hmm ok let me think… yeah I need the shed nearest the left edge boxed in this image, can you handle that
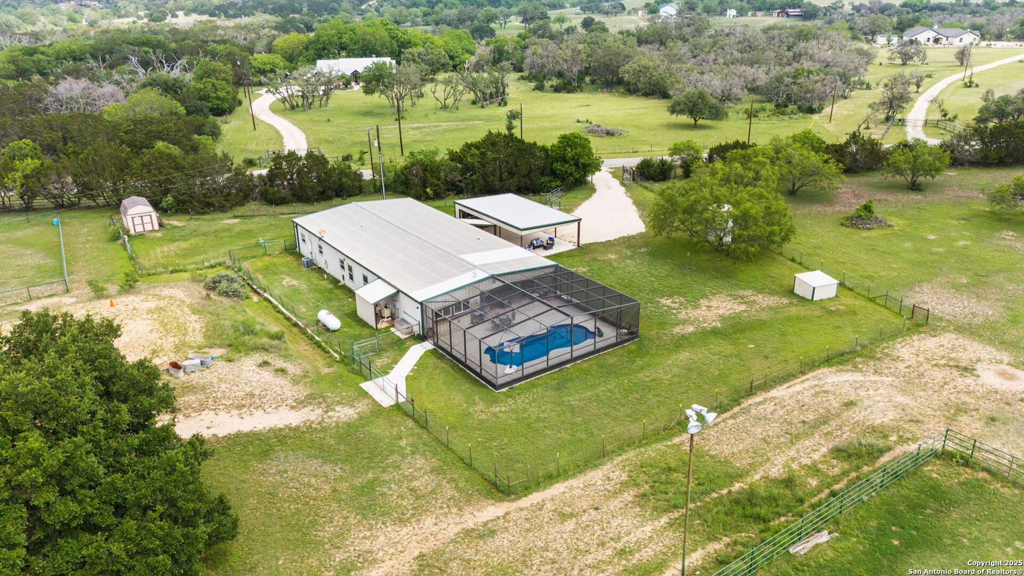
[120,195,158,234]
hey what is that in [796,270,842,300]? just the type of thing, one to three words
shed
